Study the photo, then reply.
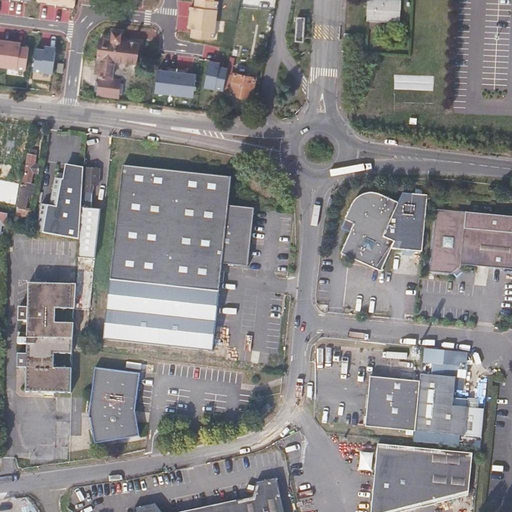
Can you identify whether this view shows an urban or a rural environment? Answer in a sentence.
The area is urban.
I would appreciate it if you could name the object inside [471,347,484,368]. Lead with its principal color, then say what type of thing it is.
white vehicle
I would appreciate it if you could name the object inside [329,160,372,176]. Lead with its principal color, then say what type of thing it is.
white vehicle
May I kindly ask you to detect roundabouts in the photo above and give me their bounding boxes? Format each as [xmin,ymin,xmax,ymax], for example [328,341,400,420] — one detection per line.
[289,118,350,180]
